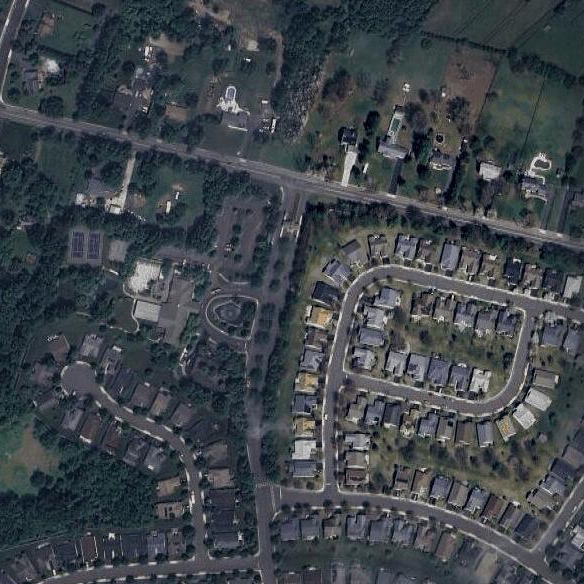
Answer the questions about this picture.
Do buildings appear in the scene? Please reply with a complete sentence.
Yes, this view includes a building.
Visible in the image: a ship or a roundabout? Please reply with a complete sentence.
Visible in the photo is a roundabout.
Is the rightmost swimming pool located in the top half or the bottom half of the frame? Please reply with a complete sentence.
You can find the rightmost swimming pool in the top half.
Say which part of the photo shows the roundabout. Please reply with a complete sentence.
Look in the center portion of the view to spot the roundabout.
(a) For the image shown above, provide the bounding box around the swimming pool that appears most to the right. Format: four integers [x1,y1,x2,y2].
[528,157,551,182]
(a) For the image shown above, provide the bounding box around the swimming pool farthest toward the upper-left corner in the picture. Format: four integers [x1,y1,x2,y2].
[216,86,249,114]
